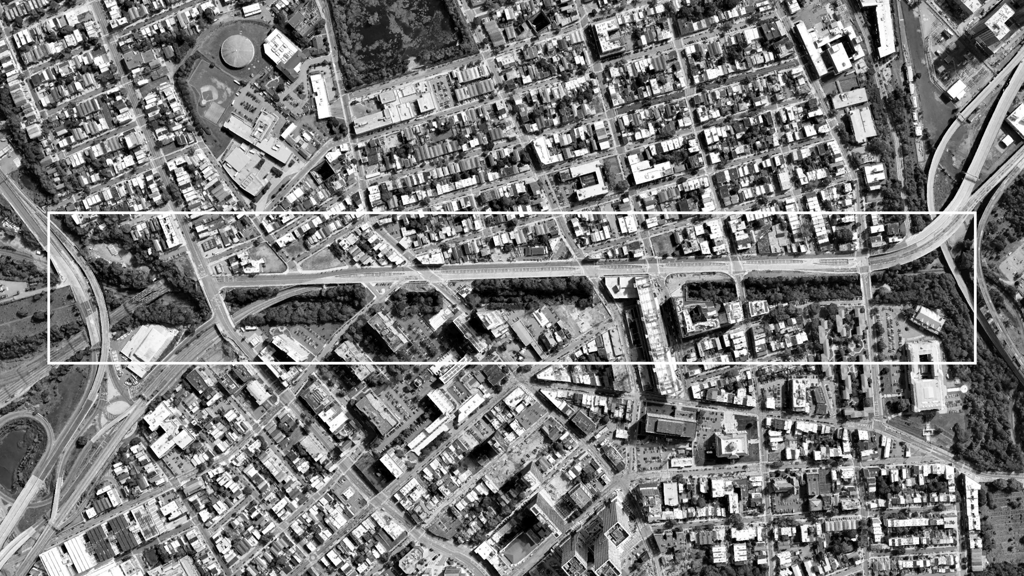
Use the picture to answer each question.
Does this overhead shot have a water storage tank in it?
Yes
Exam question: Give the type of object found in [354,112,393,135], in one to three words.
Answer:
building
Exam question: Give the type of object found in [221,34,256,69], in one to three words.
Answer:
water tank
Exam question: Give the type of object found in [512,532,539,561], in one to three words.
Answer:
building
